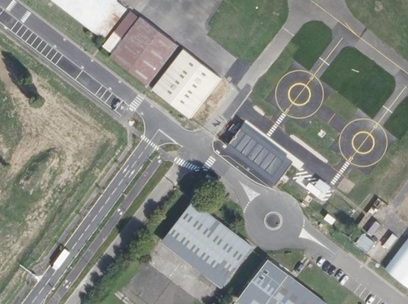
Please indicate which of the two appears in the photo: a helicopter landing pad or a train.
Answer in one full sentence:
Looking from above, you can make out a helicopter landing pad.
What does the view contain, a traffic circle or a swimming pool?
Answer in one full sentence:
There is a traffic circle in the scene.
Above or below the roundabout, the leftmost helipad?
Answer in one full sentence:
You can see the leftmost helipad above the roundabout in the frame.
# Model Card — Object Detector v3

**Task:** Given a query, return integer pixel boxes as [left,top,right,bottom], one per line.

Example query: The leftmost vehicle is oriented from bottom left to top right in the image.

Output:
[51,250,69,271]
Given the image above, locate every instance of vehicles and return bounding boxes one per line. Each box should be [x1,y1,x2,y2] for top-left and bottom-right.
[111,98,120,108]
[230,122,239,132]
[327,264,336,275]
[51,250,69,271]
[322,260,332,271]
[334,269,344,280]
[340,275,349,286]
[296,262,304,272]
[318,256,326,267]
[365,296,374,304]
